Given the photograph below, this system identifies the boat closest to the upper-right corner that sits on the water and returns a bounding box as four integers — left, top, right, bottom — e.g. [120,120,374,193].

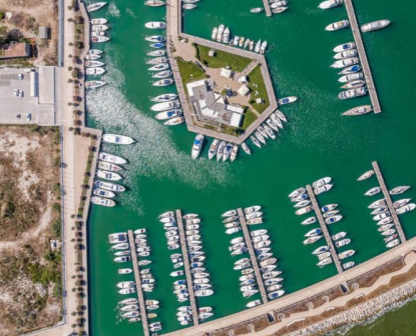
[355,20,391,34]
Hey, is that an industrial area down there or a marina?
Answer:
marina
